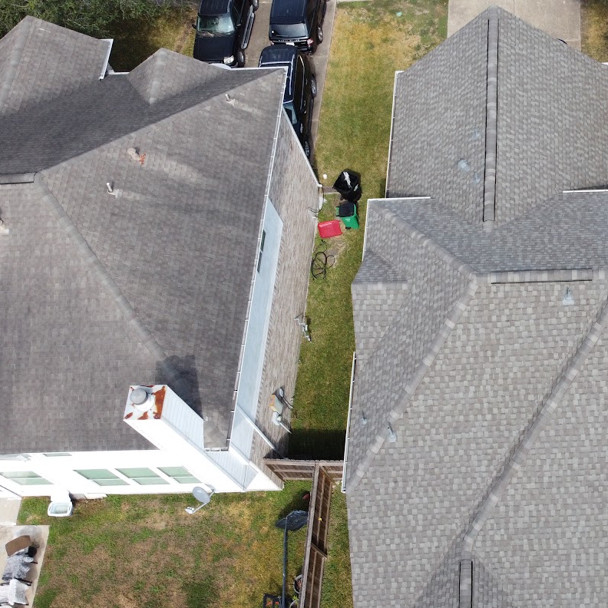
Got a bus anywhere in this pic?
No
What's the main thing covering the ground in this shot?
buildings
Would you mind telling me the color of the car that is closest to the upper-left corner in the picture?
black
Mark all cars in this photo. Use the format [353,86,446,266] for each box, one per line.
[263,50,318,156]
[265,0,326,54]
[189,0,258,74]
